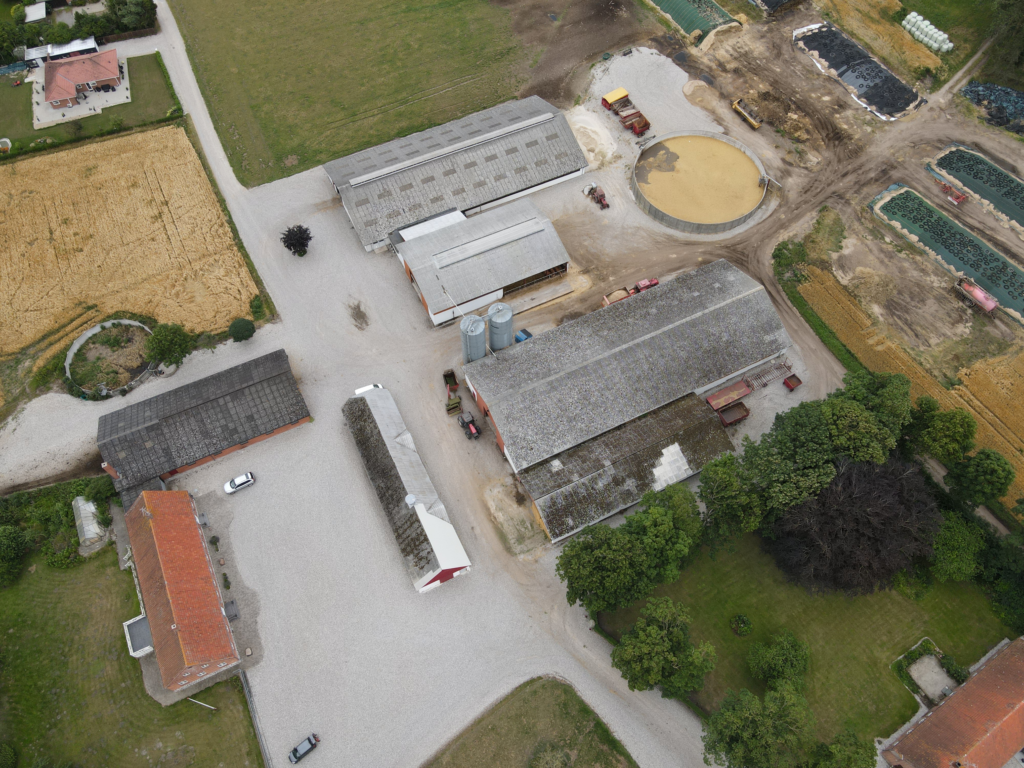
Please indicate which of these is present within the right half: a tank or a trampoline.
tank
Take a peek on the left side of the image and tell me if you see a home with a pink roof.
Yes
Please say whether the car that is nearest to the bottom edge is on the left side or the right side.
left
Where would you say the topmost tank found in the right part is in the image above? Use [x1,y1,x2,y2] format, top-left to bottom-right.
[633,129,766,235]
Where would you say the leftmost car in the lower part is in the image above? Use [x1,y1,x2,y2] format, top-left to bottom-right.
[221,470,257,495]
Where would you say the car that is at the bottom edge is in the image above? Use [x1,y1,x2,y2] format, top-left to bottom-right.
[283,730,321,768]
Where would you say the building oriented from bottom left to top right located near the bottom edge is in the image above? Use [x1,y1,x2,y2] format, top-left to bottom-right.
[886,637,1024,768]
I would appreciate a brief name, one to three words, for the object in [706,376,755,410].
trailer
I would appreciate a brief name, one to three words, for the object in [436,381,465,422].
work vehicle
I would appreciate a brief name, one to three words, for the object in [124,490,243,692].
house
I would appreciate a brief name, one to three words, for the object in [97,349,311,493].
barn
